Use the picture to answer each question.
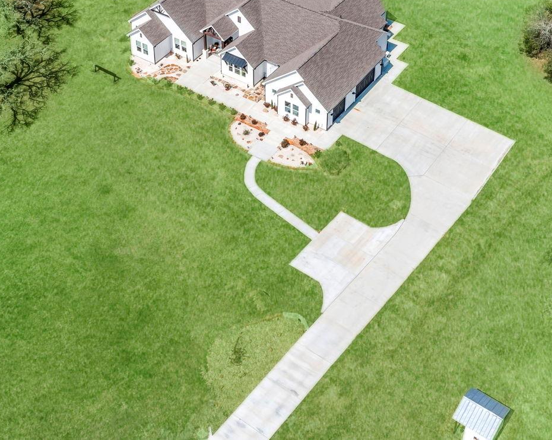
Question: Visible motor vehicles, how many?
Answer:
0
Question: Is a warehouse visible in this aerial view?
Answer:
No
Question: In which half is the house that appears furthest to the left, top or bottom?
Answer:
top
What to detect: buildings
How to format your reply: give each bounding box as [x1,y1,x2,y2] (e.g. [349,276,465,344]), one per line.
[126,0,394,132]
[453,390,508,440]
